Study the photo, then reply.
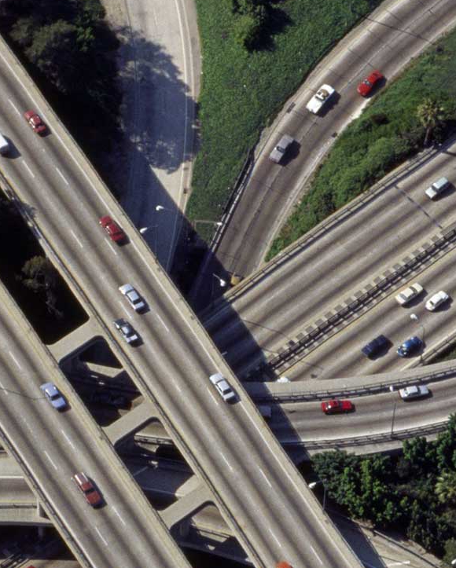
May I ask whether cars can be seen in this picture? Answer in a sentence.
Yes, there's a car here.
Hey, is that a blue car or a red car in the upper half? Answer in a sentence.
Visible in the upper half is a red car.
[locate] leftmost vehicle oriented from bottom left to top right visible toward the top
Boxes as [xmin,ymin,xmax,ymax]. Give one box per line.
[270,137,293,163]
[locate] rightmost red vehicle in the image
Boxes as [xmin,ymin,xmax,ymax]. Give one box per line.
[357,73,383,97]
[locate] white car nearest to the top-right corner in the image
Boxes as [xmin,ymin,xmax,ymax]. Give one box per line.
[308,86,335,114]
